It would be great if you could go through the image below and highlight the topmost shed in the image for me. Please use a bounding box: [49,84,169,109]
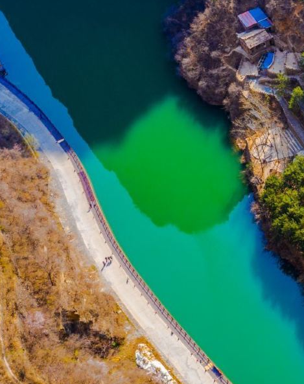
[237,7,274,31]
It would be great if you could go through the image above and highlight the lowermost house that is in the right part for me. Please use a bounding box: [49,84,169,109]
[236,29,274,52]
